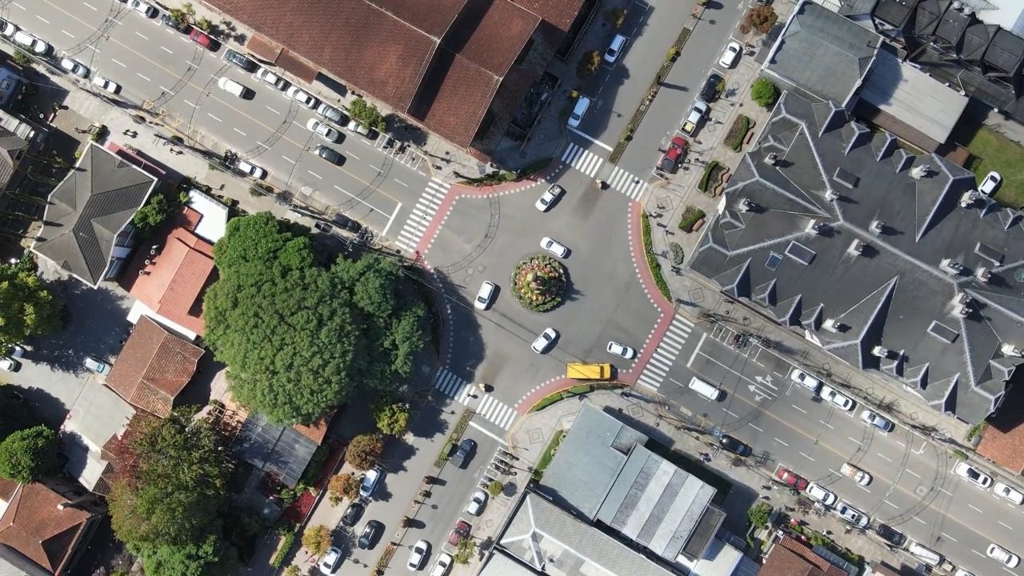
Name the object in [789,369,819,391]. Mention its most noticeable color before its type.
white car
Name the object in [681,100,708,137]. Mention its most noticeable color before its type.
white truck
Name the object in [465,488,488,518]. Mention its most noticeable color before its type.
white car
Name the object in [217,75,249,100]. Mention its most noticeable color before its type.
white vehicle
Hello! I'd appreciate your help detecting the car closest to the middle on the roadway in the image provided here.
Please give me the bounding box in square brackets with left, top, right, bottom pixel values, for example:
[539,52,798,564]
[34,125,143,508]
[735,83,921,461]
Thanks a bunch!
[474,280,496,310]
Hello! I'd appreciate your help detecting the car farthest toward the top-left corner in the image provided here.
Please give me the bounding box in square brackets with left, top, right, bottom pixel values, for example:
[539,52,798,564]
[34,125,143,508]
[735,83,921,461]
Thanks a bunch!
[0,16,21,38]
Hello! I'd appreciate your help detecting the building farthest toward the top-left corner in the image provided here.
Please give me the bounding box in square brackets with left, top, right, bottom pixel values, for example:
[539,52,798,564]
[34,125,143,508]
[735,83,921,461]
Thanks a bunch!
[0,64,38,116]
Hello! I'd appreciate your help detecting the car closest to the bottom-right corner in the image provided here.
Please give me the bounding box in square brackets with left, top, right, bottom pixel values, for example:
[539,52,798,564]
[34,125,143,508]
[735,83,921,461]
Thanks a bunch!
[985,543,1015,566]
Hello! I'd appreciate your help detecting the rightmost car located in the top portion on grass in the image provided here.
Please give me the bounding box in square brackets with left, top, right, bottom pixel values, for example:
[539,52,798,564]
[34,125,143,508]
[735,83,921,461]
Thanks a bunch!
[977,169,1001,194]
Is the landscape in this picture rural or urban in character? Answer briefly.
urban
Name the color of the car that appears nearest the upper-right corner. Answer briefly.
white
